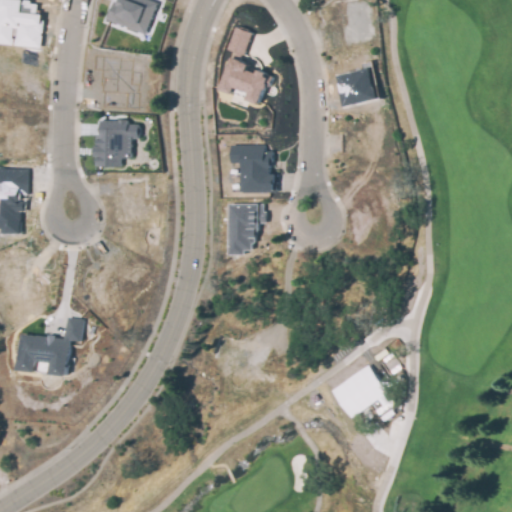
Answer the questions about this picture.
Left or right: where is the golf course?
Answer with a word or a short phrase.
right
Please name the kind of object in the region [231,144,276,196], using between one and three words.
house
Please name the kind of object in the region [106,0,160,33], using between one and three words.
house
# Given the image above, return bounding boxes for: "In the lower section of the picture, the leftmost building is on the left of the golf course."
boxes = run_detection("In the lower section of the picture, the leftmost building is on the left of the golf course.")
[15,318,86,375]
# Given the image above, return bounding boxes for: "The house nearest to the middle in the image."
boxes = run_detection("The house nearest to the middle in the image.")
[228,204,267,256]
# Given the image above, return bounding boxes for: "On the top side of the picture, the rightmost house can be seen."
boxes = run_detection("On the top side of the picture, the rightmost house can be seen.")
[336,64,384,110]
